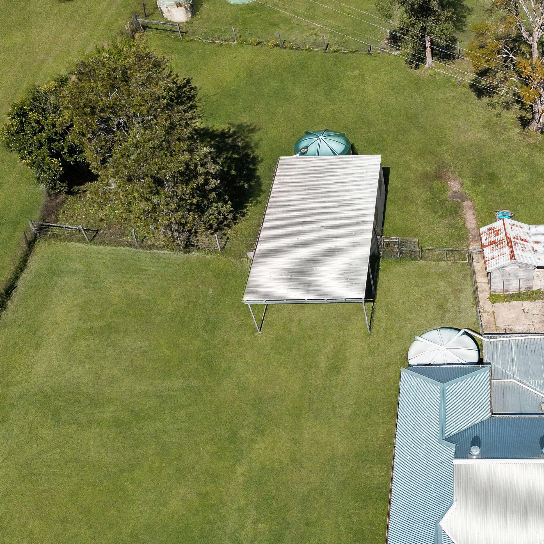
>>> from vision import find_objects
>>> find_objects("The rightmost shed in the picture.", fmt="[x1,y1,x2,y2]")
[479,216,544,293]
